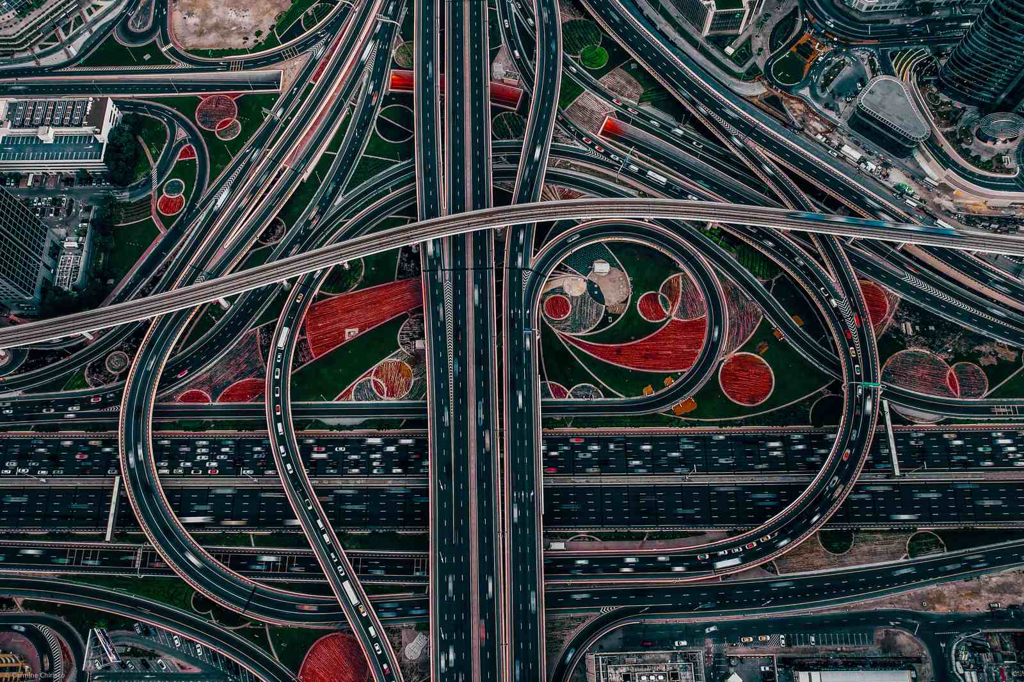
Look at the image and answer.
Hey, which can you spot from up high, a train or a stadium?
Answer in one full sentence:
The image shows a train.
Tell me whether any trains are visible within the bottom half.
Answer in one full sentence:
No, no train is visible within the bottom half.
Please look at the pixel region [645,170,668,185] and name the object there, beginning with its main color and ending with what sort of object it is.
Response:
white vehicle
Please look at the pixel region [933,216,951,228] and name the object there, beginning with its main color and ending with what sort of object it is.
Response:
white vehicle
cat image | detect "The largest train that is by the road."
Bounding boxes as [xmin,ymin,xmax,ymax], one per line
[788,210,951,236]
